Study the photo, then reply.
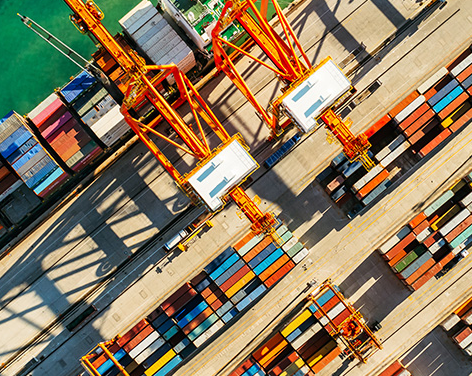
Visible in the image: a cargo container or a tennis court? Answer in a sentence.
The one in the frame is a cargo container.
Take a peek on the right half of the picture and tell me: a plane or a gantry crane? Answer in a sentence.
The one visible on the right half of the picture is a gantry crane.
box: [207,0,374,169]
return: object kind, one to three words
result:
container crane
